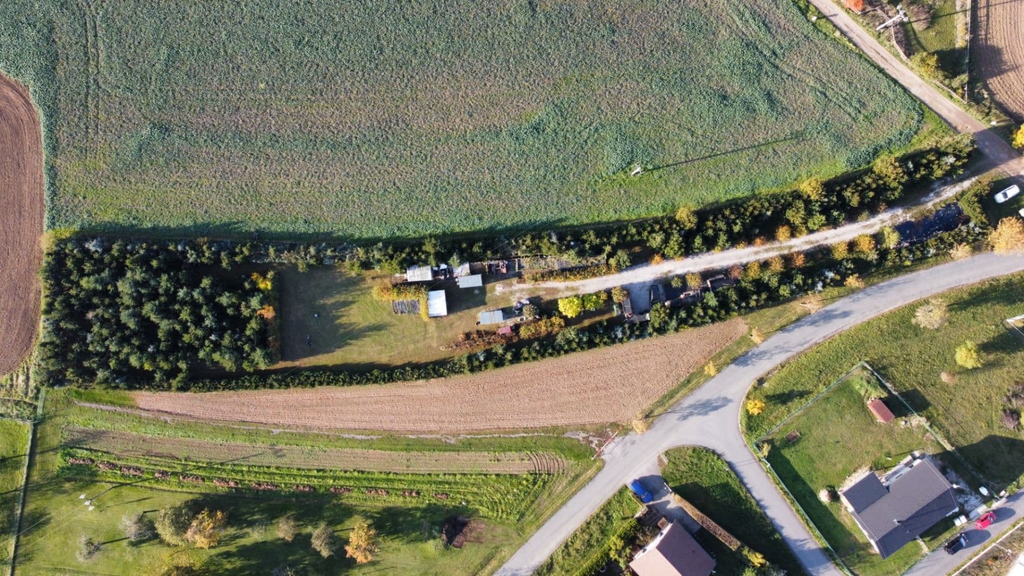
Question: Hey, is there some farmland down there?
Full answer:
Yes, farmland can be seen from above here.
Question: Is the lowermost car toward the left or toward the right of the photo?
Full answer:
The lowermost car appears in the right half of the scene.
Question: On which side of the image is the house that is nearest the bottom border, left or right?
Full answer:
The house that is nearest the bottom border sits on the right side.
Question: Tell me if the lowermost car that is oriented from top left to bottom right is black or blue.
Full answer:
From above, the lowermost car that is oriented from top left to bottom right appears blue.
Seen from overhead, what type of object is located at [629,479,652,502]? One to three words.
car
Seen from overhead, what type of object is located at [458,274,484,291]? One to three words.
shed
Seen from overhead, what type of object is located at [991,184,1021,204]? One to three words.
car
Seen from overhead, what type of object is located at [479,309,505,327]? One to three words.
shed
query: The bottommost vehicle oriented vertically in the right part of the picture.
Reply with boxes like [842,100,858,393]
[647,281,661,310]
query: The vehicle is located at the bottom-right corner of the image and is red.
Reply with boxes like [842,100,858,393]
[973,510,997,529]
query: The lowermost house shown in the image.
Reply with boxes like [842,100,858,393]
[629,518,717,576]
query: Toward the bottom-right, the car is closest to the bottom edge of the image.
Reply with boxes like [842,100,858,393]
[942,533,968,554]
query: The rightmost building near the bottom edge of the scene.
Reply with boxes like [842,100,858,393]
[841,458,958,554]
